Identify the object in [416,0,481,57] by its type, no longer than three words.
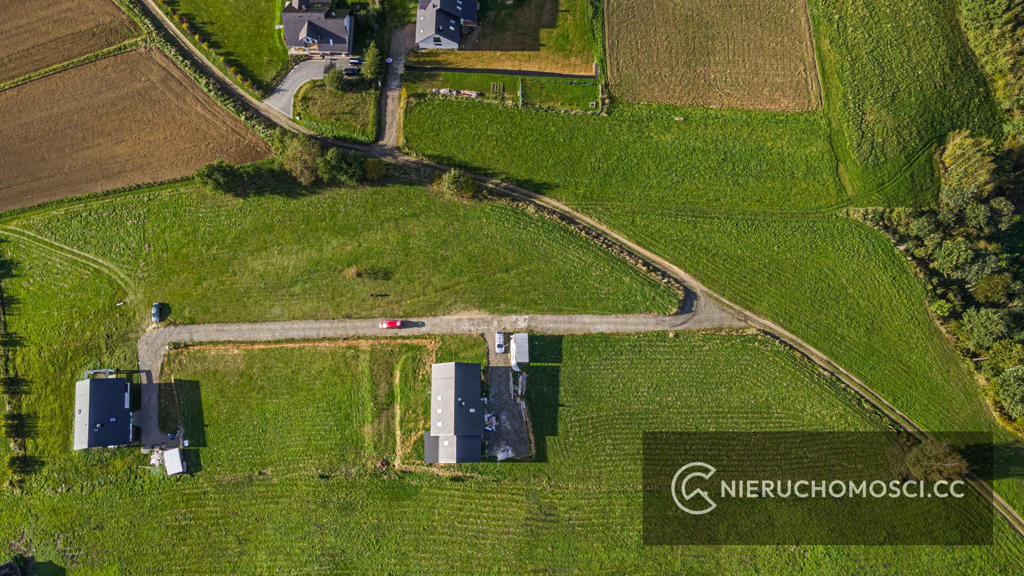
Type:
house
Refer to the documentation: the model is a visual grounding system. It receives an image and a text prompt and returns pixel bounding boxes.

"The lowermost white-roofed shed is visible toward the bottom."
[164,448,188,475]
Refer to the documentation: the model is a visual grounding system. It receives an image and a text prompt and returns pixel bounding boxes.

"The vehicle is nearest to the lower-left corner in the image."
[148,302,161,323]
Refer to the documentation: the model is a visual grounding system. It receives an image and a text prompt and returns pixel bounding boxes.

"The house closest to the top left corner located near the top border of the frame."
[280,0,360,67]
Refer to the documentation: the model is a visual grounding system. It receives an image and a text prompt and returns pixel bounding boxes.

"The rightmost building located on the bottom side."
[423,361,485,463]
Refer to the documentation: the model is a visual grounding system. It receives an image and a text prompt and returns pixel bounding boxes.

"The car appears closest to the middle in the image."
[494,331,509,355]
